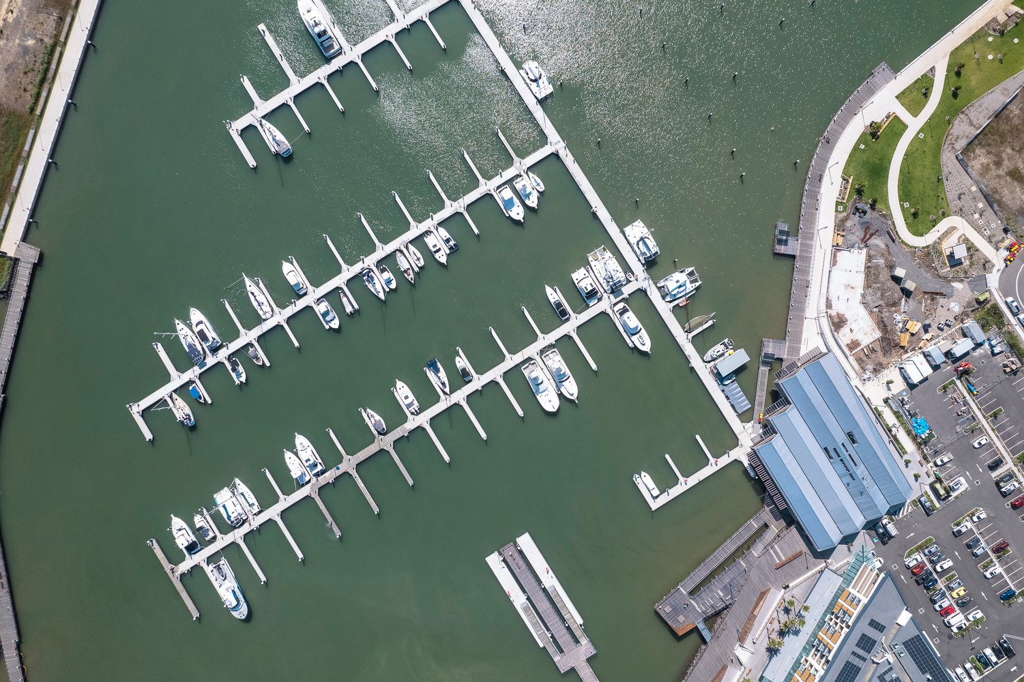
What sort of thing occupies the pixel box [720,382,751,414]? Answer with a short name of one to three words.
pier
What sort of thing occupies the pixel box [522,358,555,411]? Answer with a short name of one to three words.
boat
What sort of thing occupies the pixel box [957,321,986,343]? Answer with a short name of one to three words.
building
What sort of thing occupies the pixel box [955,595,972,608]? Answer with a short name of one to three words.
vehicle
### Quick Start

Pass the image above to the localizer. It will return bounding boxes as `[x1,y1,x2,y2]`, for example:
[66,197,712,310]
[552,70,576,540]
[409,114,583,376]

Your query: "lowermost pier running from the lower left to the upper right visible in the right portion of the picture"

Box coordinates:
[656,508,768,627]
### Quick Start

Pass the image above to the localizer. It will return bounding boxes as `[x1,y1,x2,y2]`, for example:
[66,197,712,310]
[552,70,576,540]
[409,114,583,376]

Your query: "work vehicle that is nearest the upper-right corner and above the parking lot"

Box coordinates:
[853,200,879,216]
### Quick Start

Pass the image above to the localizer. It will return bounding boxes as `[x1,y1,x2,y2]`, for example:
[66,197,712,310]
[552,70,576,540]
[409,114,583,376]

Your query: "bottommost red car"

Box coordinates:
[938,604,956,618]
